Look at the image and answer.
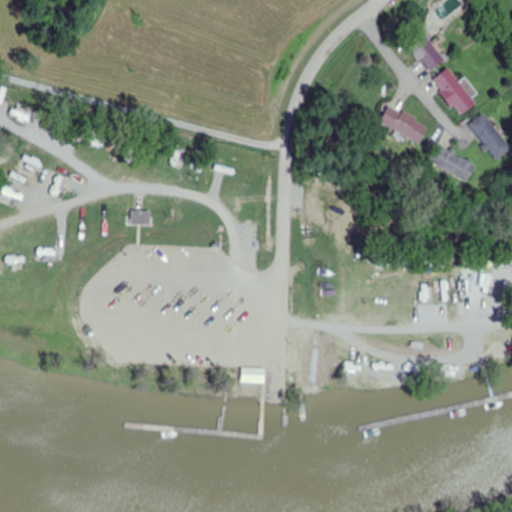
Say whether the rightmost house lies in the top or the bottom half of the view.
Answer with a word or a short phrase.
top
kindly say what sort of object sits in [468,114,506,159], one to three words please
house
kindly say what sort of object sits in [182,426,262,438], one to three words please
pier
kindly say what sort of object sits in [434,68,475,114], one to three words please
house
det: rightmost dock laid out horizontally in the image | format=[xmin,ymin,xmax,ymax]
[432,392,512,414]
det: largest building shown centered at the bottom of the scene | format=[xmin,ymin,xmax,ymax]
[239,368,266,384]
